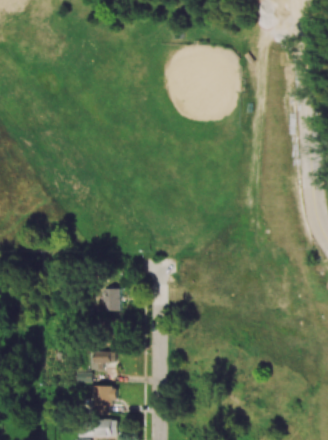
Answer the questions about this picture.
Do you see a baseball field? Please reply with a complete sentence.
Yes, the picture does show a baseball field.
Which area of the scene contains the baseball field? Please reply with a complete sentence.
The baseball field is located in the top region of the scene.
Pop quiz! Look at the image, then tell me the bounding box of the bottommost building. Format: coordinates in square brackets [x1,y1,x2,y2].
[78,420,118,438]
